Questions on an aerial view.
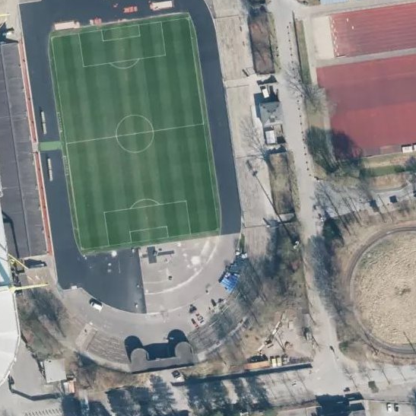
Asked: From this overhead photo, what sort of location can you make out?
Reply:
sports ground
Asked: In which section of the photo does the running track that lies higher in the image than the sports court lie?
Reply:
top right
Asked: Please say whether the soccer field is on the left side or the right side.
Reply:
left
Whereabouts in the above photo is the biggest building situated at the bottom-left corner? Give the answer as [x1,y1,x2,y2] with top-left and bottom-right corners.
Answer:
[42,358,67,383]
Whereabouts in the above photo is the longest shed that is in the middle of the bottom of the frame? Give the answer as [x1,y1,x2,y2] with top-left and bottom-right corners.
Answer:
[184,364,313,386]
